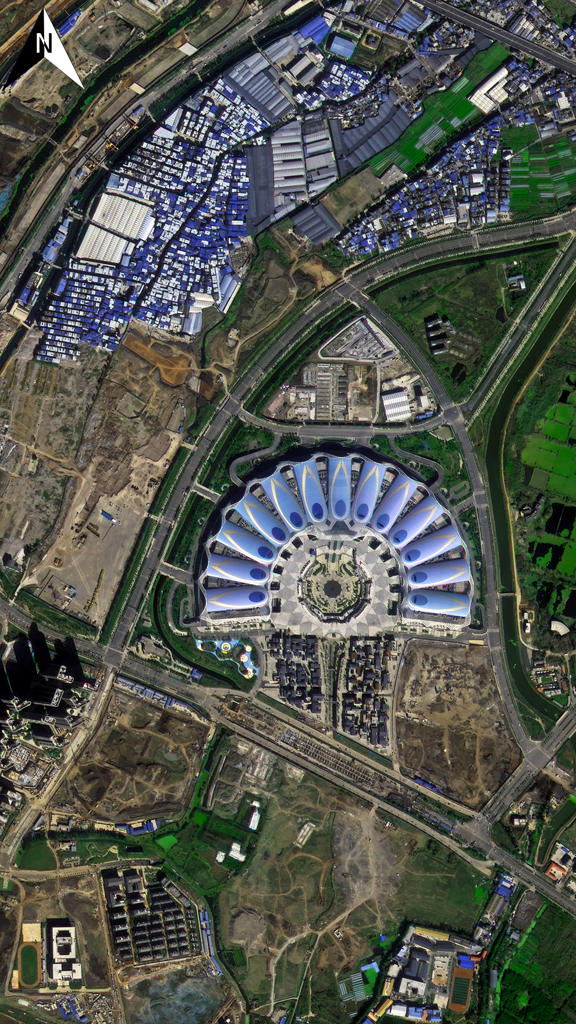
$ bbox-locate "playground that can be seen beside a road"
[192,635,258,680]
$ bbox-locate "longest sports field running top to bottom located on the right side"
[449,968,473,1012]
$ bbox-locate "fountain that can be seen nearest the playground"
[324,580,342,598]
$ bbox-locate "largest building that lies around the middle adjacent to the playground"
[198,453,474,630]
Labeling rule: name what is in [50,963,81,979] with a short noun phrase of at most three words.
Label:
building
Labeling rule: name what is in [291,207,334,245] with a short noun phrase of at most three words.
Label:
building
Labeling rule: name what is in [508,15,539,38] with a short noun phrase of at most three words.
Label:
shed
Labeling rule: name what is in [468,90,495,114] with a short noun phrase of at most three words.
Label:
shed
